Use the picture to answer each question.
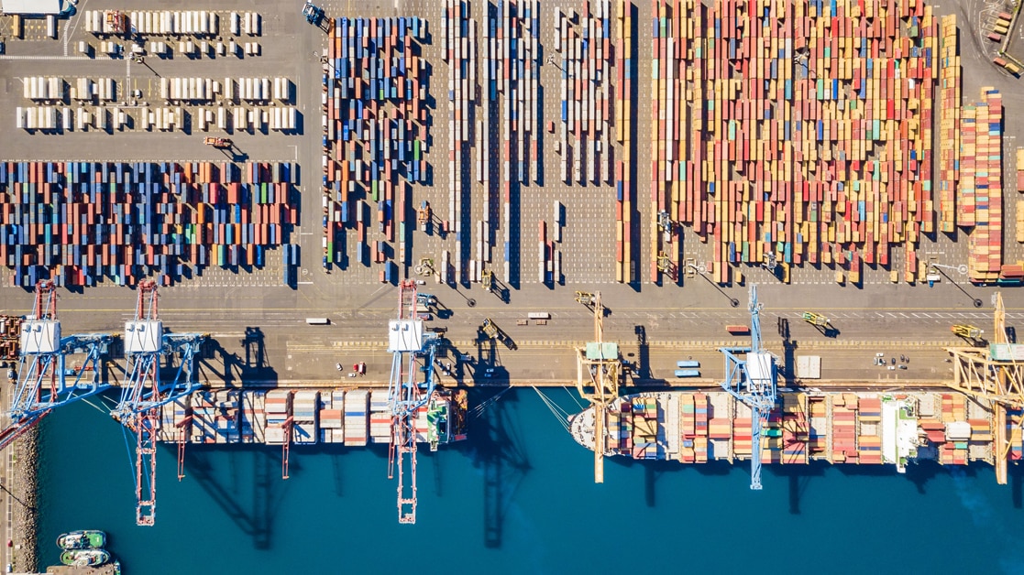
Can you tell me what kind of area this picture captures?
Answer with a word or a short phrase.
port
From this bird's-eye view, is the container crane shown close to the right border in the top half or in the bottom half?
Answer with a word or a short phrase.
bottom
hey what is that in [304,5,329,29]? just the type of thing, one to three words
work vehicle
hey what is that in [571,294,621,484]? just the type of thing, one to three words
container crane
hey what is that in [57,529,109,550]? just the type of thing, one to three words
boat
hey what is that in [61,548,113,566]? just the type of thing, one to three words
boat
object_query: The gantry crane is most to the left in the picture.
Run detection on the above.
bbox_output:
[0,280,117,454]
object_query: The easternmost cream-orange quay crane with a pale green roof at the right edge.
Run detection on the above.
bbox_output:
[943,297,1024,482]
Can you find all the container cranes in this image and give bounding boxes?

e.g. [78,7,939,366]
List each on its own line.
[0,280,117,454]
[943,297,1024,482]
[717,286,778,491]
[387,280,441,525]
[571,294,621,484]
[116,280,210,525]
